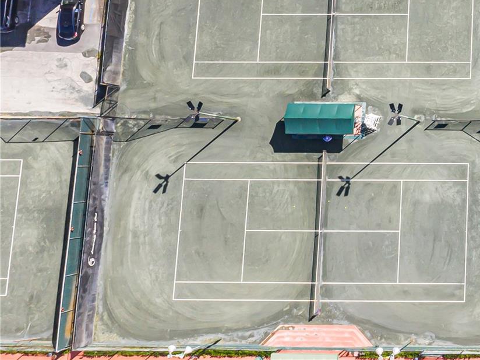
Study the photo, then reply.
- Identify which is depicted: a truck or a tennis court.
tennis court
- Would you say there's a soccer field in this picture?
No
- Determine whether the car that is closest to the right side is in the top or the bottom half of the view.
top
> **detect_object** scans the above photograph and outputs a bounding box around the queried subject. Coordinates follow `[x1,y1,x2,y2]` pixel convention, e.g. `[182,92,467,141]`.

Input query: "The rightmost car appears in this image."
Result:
[57,0,87,42]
